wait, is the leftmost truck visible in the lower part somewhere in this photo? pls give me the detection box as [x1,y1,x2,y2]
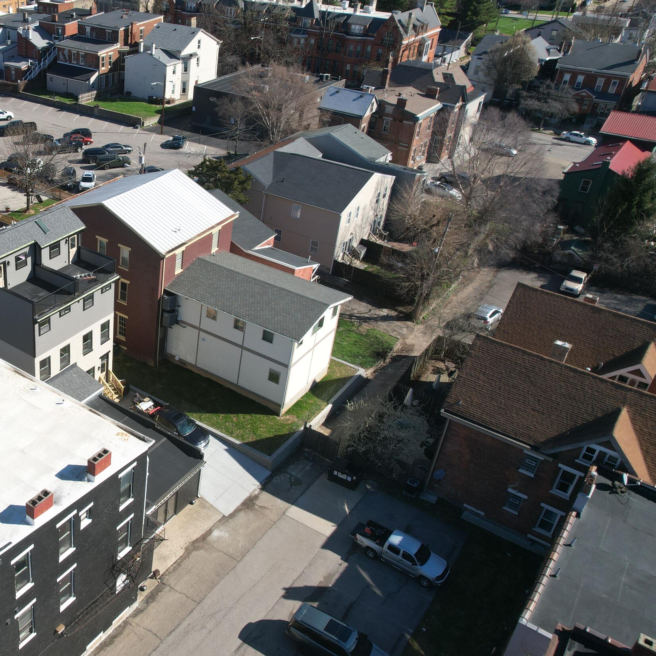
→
[134,391,208,441]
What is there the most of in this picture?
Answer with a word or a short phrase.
buildings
